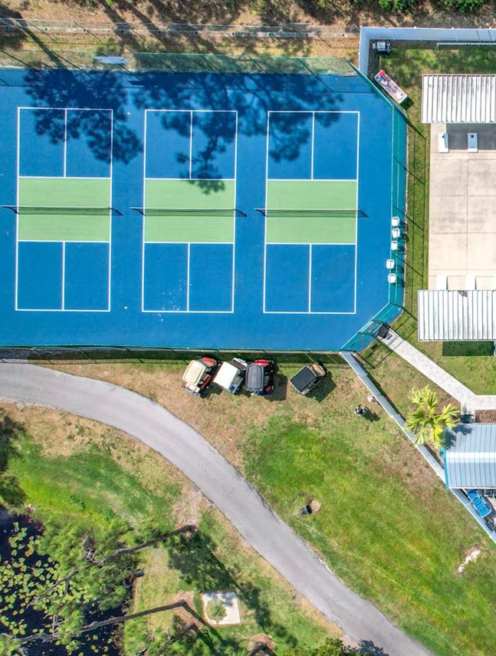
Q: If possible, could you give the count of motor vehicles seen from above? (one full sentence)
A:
The count of motor vehicles comes to 4.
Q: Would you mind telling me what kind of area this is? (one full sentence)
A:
This looks like a sports ground.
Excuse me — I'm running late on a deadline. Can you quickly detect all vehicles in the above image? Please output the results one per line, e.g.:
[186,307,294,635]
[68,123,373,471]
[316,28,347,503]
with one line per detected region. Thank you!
[206,355,249,397]
[283,360,328,397]
[176,354,218,397]
[242,356,274,398]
